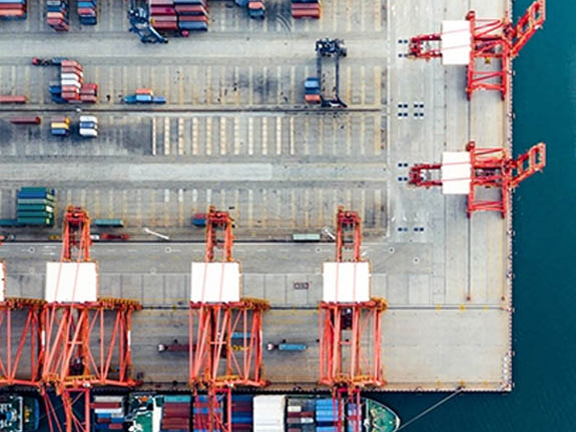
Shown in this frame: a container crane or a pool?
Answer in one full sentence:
Looking from above, you can make out a container crane.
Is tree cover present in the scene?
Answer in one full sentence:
No, there is no tree cover in the image.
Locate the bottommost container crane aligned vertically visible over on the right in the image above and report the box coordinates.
[317,201,391,432]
